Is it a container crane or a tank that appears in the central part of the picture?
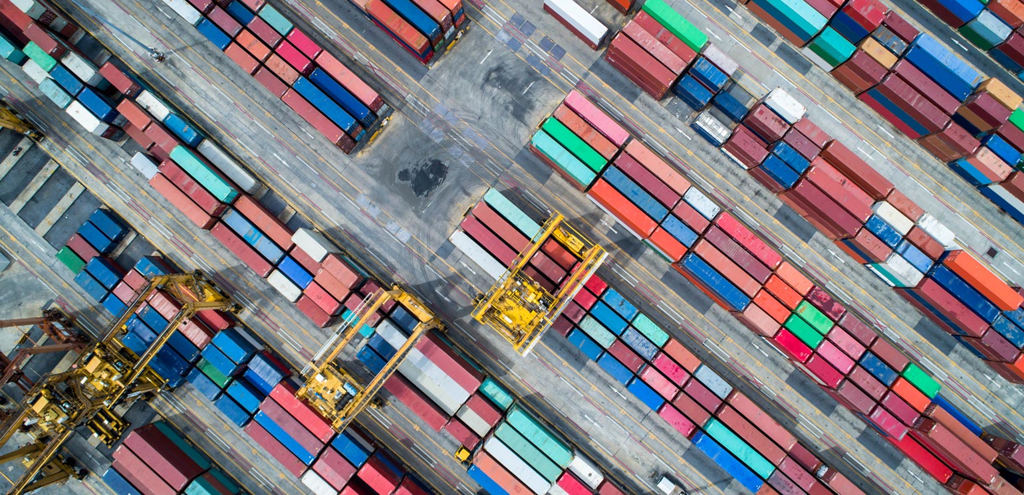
container crane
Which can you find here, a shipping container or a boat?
shipping container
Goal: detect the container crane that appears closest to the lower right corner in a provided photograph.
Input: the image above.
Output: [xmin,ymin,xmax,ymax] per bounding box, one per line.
[471,212,614,362]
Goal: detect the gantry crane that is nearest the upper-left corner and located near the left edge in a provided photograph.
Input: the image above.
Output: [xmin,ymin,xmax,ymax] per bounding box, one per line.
[0,98,46,142]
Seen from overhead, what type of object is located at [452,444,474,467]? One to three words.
truck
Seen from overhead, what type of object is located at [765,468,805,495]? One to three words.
shipping container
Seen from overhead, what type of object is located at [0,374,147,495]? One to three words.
container crane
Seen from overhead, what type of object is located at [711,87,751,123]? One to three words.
shipping container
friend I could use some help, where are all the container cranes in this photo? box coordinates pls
[60,267,243,422]
[0,98,46,142]
[289,283,446,436]
[0,374,147,495]
[471,212,614,362]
